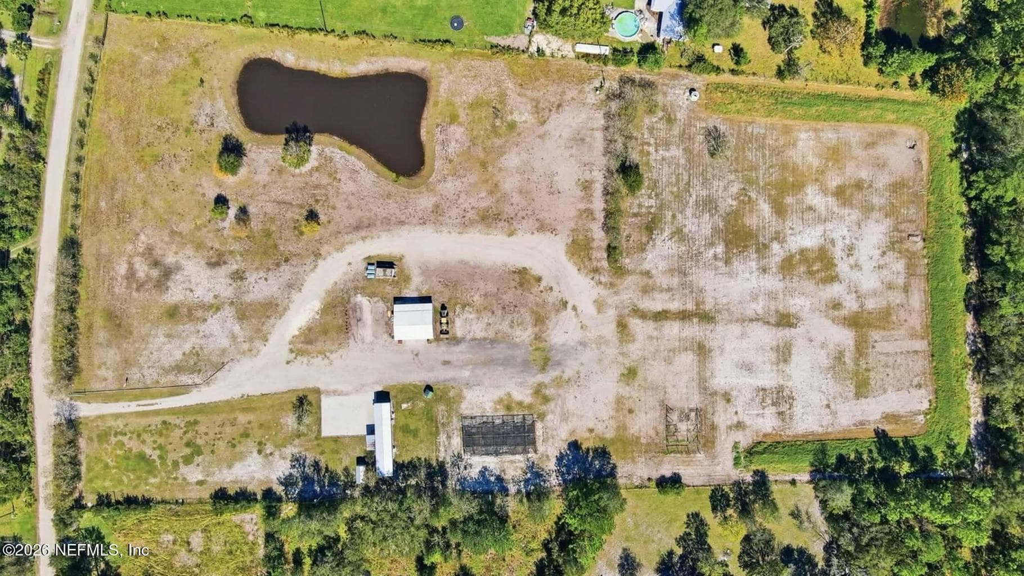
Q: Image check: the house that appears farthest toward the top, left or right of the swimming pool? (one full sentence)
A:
The swimming pool has the house that appears farthest toward the top on its right side.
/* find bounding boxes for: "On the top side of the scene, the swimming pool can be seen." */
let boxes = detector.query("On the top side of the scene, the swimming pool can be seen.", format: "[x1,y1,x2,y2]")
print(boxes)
[611,10,641,38]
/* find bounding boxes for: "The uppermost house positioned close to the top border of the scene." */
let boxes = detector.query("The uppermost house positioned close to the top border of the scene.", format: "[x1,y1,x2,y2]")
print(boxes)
[651,0,688,41]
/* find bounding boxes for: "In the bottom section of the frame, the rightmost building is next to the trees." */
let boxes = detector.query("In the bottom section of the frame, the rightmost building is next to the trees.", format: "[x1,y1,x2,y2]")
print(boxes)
[462,415,539,455]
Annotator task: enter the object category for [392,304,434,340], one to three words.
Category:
barn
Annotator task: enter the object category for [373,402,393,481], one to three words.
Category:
house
